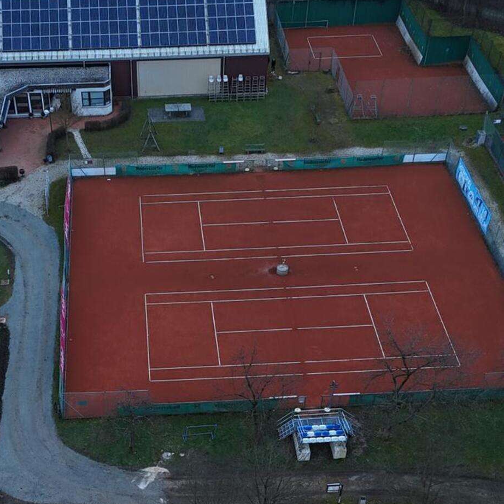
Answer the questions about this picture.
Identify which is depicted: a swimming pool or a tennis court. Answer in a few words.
tennis court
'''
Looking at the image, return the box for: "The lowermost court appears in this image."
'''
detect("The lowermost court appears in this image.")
[65,262,504,419]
